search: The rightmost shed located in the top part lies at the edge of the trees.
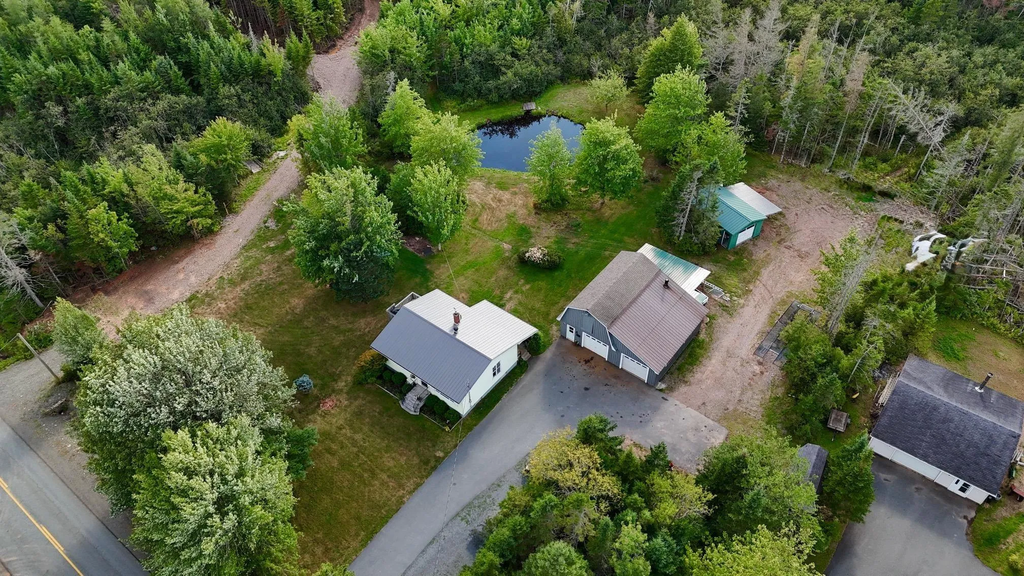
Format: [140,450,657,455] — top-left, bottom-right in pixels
[699,182,781,249]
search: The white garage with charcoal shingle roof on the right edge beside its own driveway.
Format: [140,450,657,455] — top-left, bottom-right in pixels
[868,354,1024,503]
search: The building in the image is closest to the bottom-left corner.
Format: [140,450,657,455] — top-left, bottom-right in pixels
[370,289,541,417]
